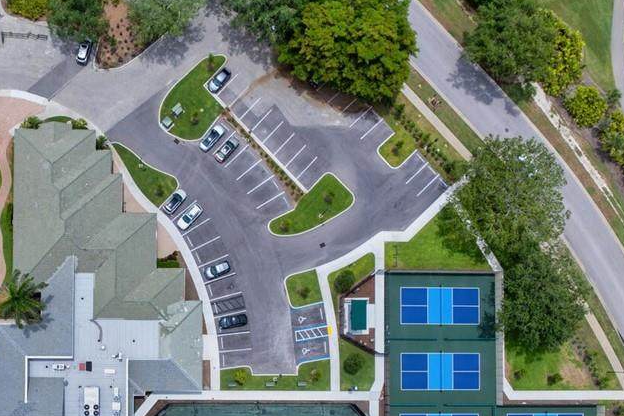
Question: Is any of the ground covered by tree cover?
Yes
